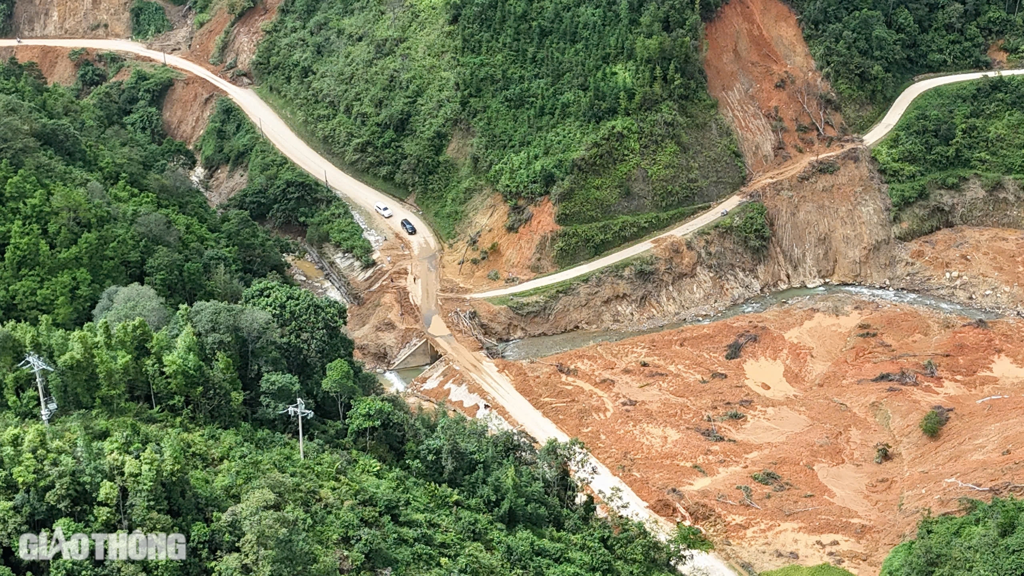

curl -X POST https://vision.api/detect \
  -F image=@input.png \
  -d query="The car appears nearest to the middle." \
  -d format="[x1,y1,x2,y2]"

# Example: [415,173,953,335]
[402,219,415,232]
